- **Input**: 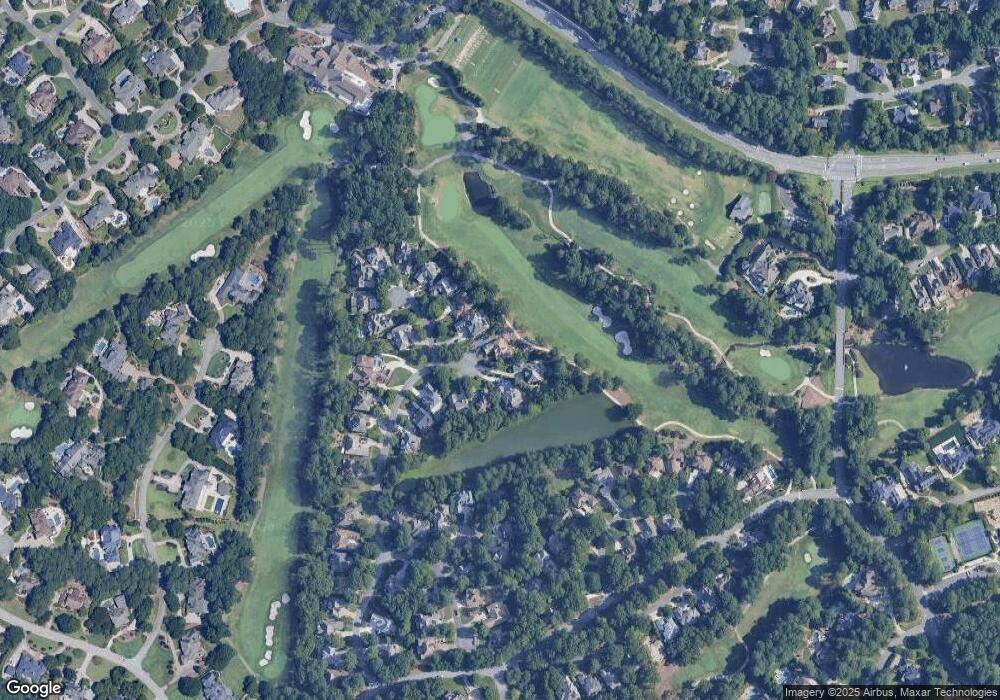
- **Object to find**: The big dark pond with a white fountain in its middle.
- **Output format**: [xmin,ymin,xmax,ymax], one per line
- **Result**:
[860,344,974,394]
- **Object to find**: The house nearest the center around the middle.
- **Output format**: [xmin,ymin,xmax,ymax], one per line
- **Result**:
[482,336,521,359]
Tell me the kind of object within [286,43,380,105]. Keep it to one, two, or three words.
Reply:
building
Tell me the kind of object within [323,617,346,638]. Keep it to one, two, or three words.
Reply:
house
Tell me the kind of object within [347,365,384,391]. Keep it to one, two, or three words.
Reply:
house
